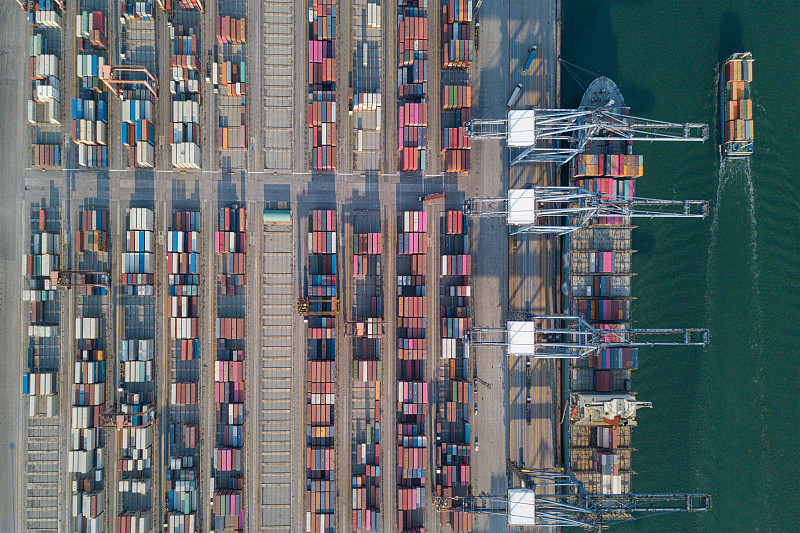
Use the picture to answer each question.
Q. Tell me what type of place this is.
port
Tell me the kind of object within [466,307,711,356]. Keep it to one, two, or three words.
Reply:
container crane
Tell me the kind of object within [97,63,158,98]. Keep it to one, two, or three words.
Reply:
crane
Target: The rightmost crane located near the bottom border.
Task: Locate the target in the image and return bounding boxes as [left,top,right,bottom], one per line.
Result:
[436,452,711,531]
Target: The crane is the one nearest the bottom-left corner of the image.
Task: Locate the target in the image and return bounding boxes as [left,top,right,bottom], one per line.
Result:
[99,402,157,431]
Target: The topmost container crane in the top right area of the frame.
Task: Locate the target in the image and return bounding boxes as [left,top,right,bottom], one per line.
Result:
[466,107,711,175]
